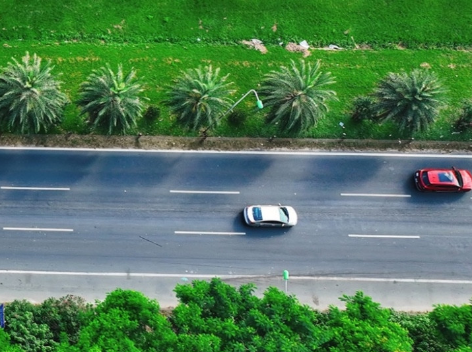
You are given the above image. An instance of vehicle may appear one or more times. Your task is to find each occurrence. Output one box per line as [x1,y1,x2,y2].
[412,166,472,192]
[241,202,297,228]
